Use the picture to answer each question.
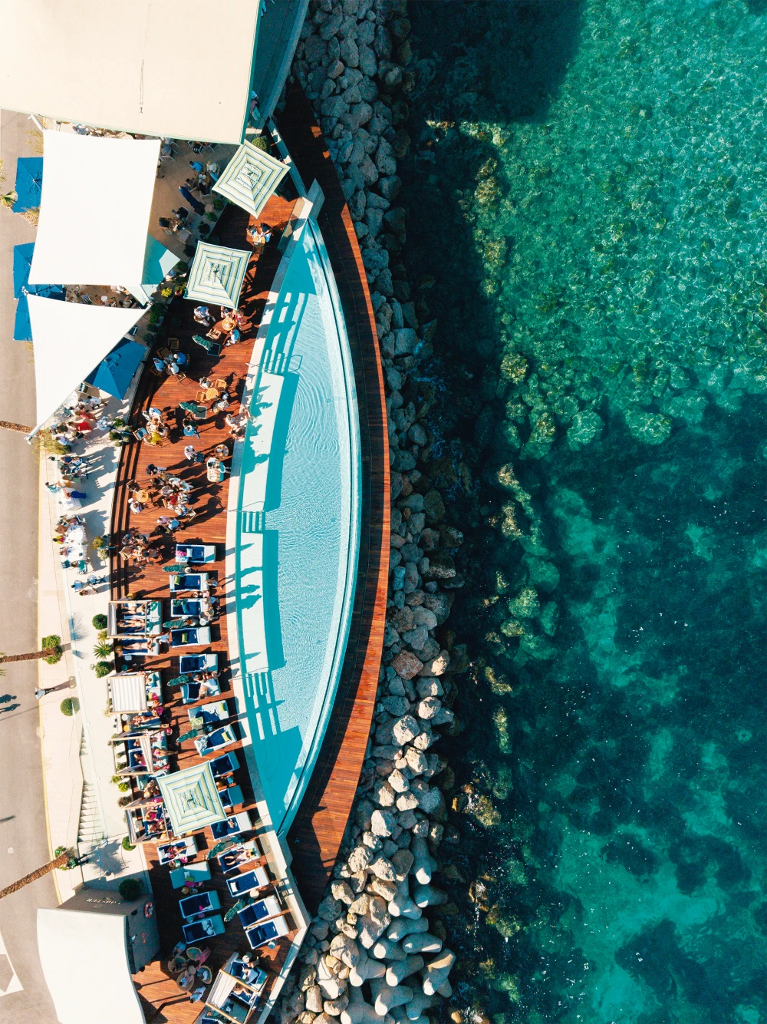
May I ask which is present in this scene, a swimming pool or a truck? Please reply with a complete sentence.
Visible in the photo is a swimming pool.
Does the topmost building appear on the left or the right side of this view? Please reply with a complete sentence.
You can find the topmost building on the left side of the picture.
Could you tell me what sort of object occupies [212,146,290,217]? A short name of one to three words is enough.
umbrella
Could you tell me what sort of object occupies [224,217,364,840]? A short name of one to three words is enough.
swimming pool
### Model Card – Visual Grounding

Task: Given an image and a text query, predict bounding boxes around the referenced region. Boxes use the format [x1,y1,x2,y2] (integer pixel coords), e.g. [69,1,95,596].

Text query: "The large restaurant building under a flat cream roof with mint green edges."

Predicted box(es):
[0,0,266,158]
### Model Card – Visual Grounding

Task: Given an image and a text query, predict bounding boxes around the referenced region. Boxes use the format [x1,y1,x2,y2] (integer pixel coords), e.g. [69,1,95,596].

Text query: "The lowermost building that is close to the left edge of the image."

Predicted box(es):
[37,885,161,1024]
